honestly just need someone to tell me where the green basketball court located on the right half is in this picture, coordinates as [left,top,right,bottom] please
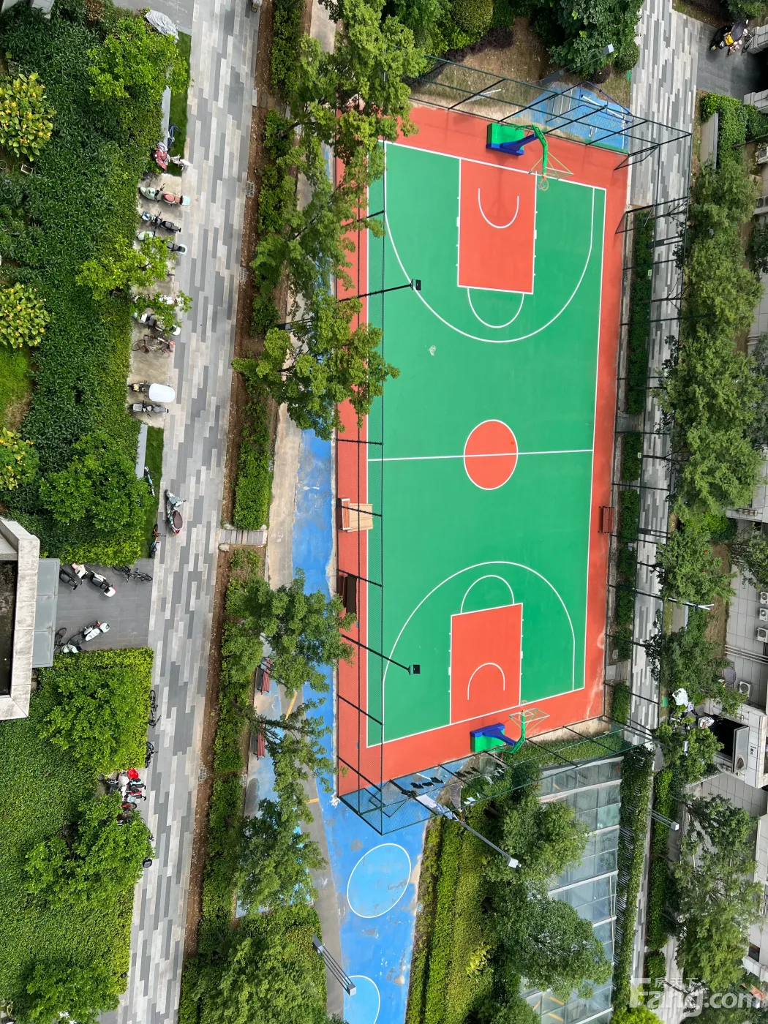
[337,87,628,797]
